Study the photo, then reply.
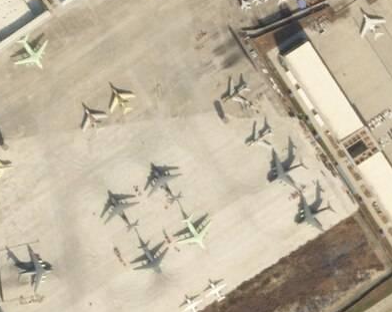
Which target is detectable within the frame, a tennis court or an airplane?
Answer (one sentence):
The one in the frame is an airplane.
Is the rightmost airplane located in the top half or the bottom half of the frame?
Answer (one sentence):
You can find the rightmost airplane in the top half.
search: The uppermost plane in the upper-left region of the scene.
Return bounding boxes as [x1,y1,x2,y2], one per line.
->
[14,36,49,69]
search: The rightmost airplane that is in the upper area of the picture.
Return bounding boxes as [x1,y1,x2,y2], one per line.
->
[361,12,386,39]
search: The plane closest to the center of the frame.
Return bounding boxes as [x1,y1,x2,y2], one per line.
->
[147,168,182,201]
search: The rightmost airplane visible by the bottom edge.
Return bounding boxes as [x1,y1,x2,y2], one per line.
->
[205,282,226,299]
